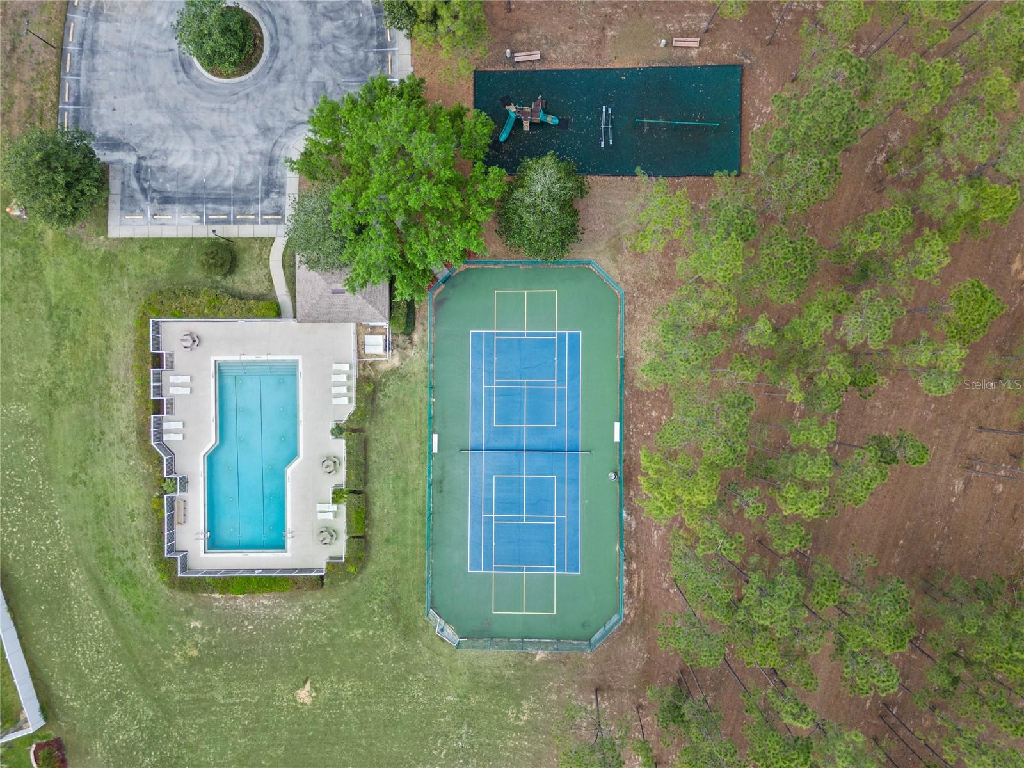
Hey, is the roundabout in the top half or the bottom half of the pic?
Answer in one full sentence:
It is in the top half that the roundabout appears.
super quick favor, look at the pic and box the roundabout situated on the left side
[181,0,268,82]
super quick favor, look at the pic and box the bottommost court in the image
[432,267,618,639]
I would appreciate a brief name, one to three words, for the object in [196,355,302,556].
swimming pool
